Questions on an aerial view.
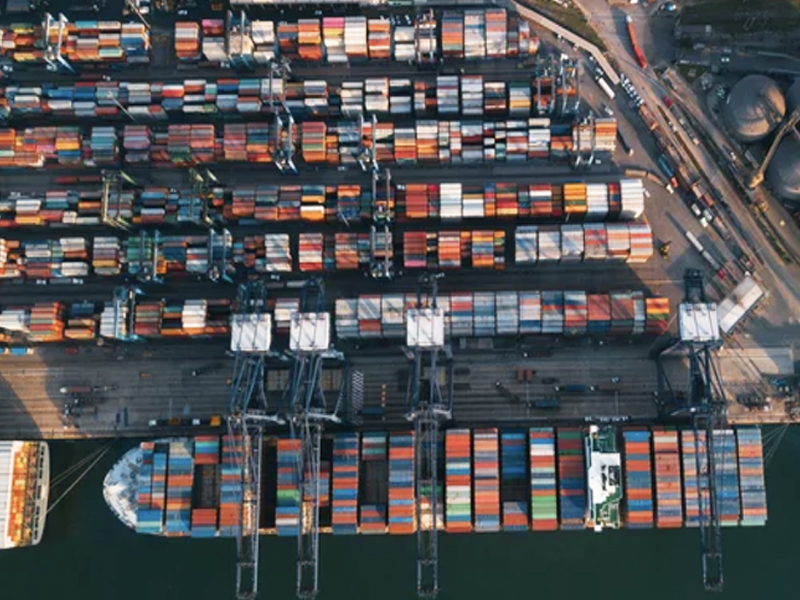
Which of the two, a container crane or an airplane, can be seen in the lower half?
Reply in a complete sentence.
It is a container crane that can be seen in the lower half.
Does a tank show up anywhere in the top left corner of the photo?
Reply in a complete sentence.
No, no tank can be made out in the top left corner of the photo.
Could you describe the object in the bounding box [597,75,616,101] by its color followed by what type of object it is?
white vehicle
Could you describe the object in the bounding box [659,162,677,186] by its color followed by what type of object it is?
blue vehicle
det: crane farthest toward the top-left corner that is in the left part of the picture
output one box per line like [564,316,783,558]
[43,12,78,73]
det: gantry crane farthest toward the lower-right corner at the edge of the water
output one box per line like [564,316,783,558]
[646,264,730,600]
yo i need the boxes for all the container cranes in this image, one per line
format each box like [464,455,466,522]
[229,8,255,73]
[269,64,295,123]
[571,111,595,169]
[646,264,730,600]
[139,230,172,285]
[112,289,151,341]
[43,12,78,73]
[228,279,300,600]
[288,277,356,600]
[373,169,395,226]
[209,227,239,281]
[276,113,302,173]
[102,171,138,227]
[371,227,395,282]
[528,60,555,121]
[402,273,459,600]
[359,112,382,172]
[553,57,579,120]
